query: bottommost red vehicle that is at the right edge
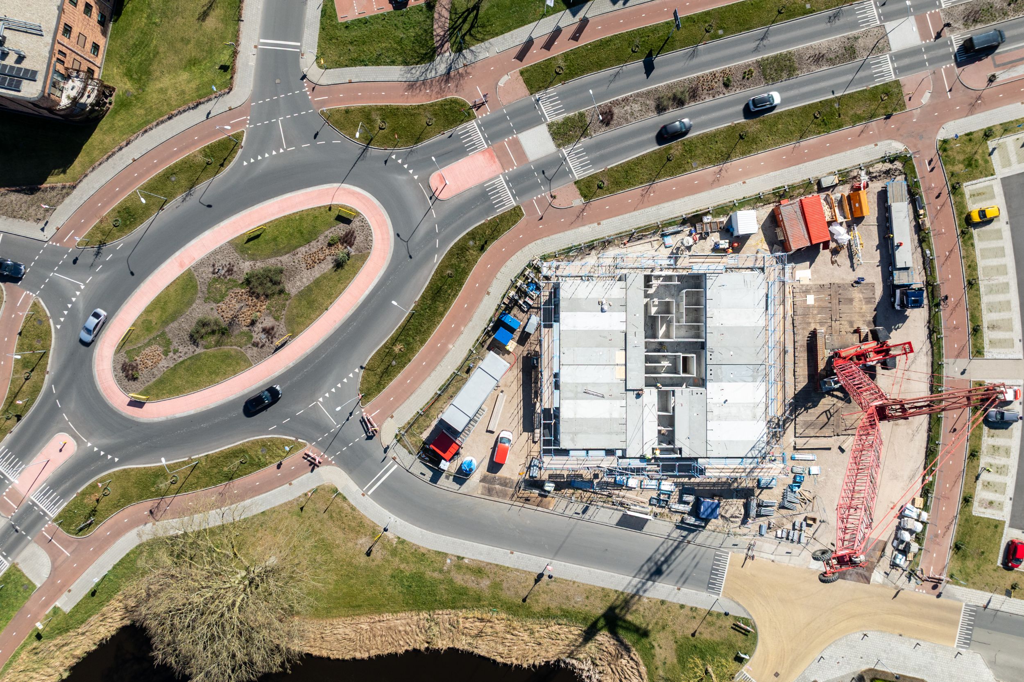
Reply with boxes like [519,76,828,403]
[1003,537,1024,569]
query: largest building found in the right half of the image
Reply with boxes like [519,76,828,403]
[558,273,766,459]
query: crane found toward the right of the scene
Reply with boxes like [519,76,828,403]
[629,326,1017,591]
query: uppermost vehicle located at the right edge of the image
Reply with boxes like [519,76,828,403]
[962,29,1004,54]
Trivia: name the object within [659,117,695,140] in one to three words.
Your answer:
car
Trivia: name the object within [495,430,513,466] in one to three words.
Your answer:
vehicle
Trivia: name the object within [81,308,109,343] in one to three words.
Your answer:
car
